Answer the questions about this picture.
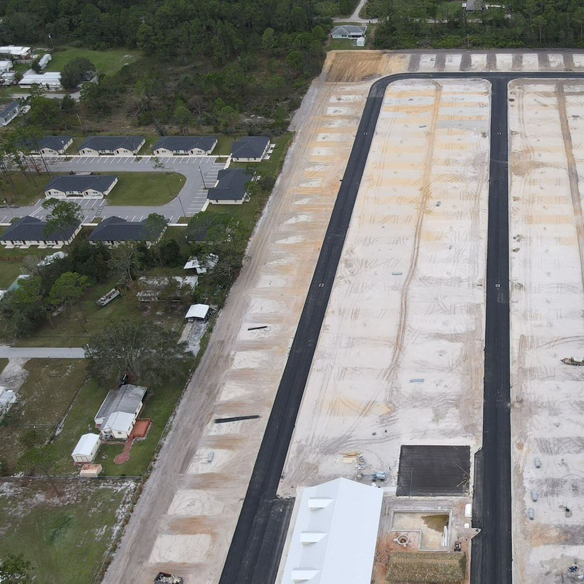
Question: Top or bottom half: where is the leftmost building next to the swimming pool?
bottom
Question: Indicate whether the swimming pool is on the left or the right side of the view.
right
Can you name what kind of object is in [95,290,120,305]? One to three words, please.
boat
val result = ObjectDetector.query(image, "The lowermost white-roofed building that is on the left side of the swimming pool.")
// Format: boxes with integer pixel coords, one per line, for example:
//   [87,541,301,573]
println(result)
[281,479,383,584]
